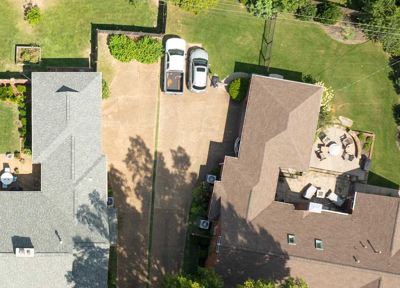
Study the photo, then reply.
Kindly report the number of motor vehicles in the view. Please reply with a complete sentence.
The number of motor vehicles here is 2.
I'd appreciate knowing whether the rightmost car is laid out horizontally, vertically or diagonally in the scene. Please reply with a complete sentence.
The rightmost car has been laid out vertically relative to the frame.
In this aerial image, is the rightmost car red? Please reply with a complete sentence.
No, from above the rightmost car looks white.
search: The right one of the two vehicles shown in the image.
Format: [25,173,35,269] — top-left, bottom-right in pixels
[187,47,210,94]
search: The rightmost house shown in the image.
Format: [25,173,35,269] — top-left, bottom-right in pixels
[205,74,400,288]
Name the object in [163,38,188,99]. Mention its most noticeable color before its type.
white truck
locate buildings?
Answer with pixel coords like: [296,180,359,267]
[205,74,400,288]
[0,72,117,288]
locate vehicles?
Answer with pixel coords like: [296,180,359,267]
[163,38,188,99]
[187,47,210,94]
